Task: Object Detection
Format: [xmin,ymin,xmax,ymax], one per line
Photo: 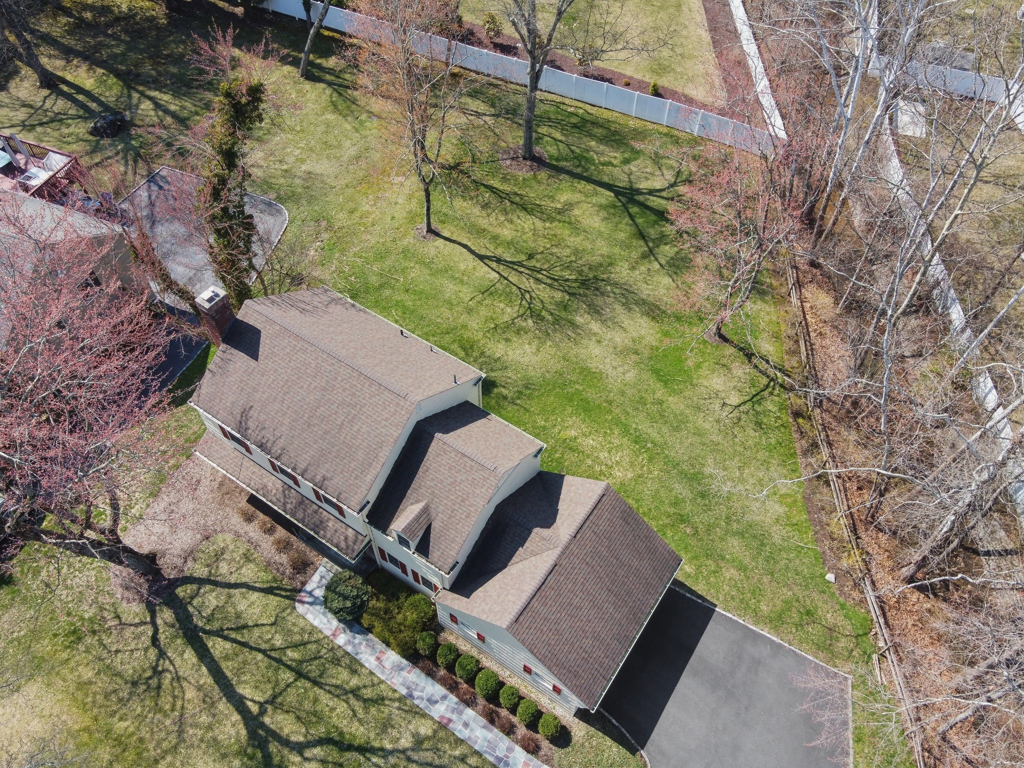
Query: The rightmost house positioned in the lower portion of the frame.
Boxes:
[188,284,685,717]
